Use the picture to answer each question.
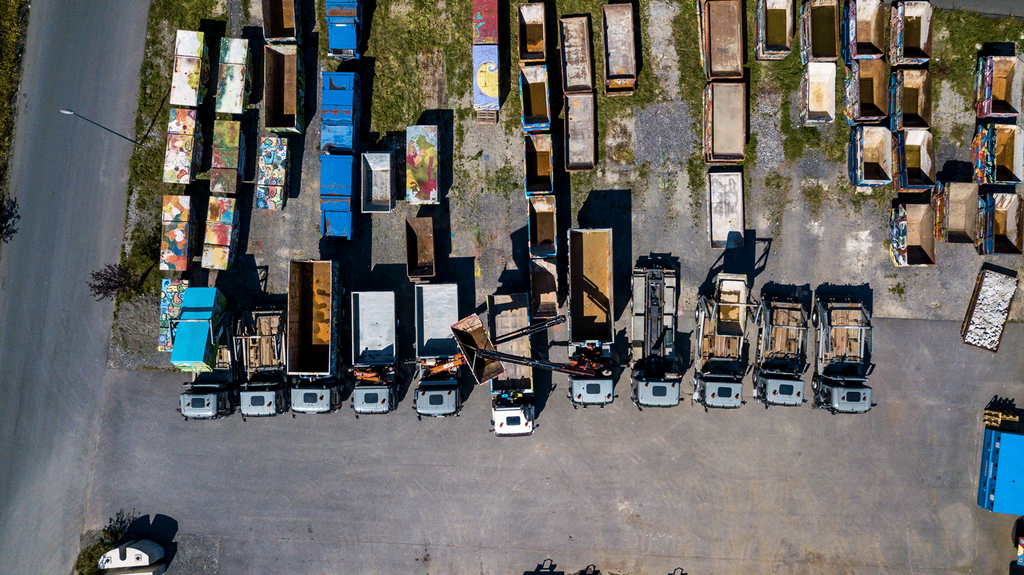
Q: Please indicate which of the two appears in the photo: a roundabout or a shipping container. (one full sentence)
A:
I can see a shipping container in this picture.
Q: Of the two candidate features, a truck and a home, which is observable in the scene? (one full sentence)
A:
Of the two, only a truck appears.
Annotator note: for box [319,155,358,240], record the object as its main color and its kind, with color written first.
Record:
blue shipping container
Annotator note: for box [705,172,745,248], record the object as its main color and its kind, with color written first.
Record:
white shipping container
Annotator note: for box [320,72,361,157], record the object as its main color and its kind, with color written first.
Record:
blue shipping container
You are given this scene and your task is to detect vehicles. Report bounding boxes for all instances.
[629,266,684,418]
[693,297,759,419]
[409,283,467,426]
[164,307,236,430]
[230,305,291,428]
[286,351,341,424]
[348,290,399,425]
[474,344,624,415]
[487,393,541,447]
[751,295,811,416]
[813,302,877,424]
